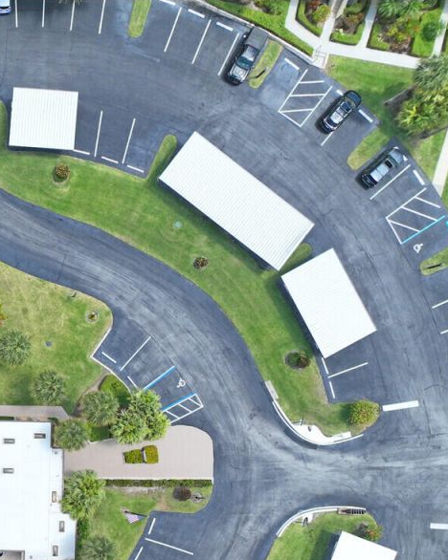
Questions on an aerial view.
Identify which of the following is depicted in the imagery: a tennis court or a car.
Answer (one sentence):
I can see a car in this picture.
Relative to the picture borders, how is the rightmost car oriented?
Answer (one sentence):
What the image shows is the rightmost car lying at an angle.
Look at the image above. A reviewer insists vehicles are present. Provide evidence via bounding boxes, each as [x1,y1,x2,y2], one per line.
[320,90,361,136]
[223,25,266,85]
[0,0,12,13]
[359,147,404,189]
